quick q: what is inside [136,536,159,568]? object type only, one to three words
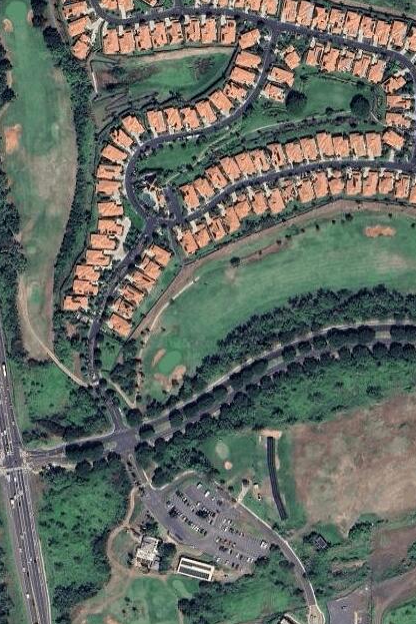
building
